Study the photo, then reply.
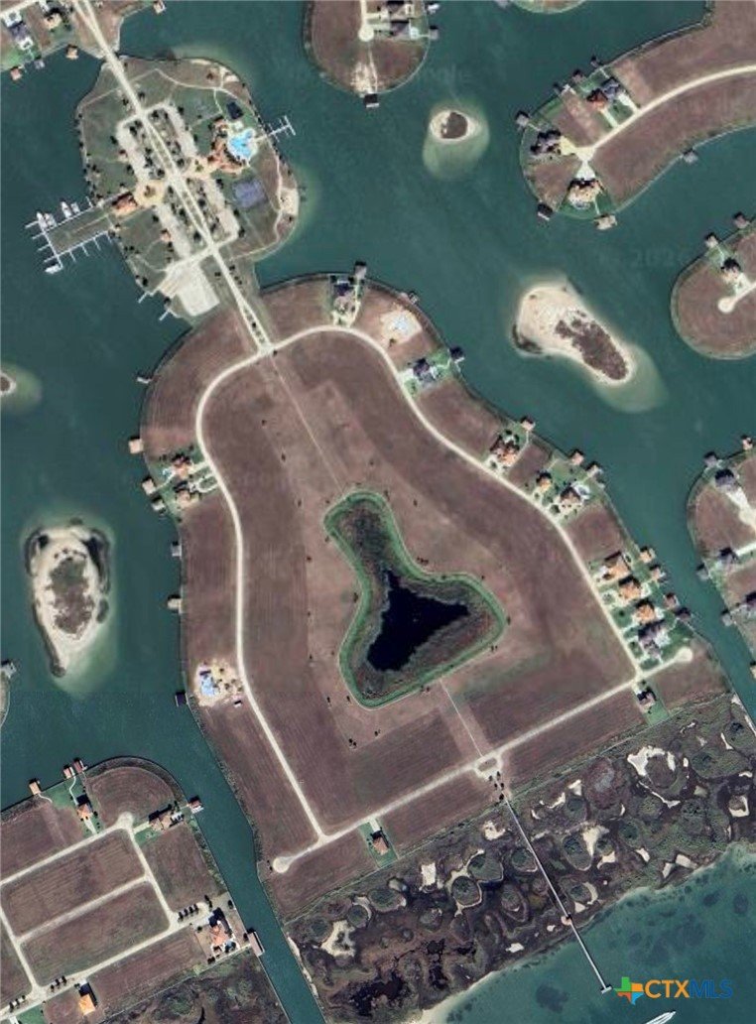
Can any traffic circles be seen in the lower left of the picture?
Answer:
No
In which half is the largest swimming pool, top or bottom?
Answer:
top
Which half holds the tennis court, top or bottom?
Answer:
top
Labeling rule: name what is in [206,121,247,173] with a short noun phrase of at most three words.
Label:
building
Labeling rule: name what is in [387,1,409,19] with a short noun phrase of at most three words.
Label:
house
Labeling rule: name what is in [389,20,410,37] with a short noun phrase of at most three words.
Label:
house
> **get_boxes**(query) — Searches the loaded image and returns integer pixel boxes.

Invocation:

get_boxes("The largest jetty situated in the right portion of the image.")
[502,799,612,993]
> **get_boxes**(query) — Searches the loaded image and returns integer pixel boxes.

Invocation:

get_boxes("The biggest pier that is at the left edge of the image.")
[26,196,112,268]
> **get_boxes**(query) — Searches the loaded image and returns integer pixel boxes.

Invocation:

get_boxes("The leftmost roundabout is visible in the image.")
[135,177,165,206]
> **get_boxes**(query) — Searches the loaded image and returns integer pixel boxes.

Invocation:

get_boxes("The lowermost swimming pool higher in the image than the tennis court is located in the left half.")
[227,126,258,163]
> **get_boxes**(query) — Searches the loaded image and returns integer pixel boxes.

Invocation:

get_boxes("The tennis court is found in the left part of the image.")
[232,178,267,209]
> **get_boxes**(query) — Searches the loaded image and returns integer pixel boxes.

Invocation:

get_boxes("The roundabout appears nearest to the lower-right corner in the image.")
[468,751,504,782]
